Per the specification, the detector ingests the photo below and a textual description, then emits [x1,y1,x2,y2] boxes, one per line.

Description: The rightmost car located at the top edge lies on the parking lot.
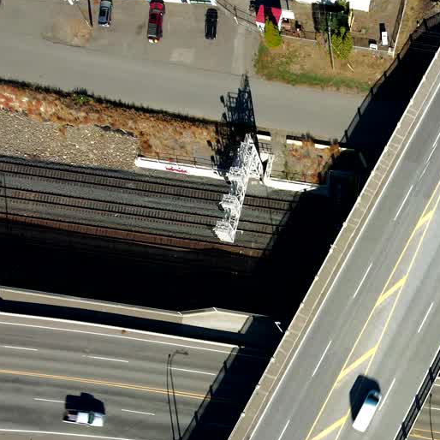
[203,9,219,41]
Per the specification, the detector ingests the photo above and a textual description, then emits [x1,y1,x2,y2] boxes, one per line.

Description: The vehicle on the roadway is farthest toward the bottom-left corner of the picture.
[61,409,107,426]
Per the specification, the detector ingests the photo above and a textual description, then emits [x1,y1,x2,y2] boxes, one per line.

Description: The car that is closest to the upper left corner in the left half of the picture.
[97,0,113,27]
